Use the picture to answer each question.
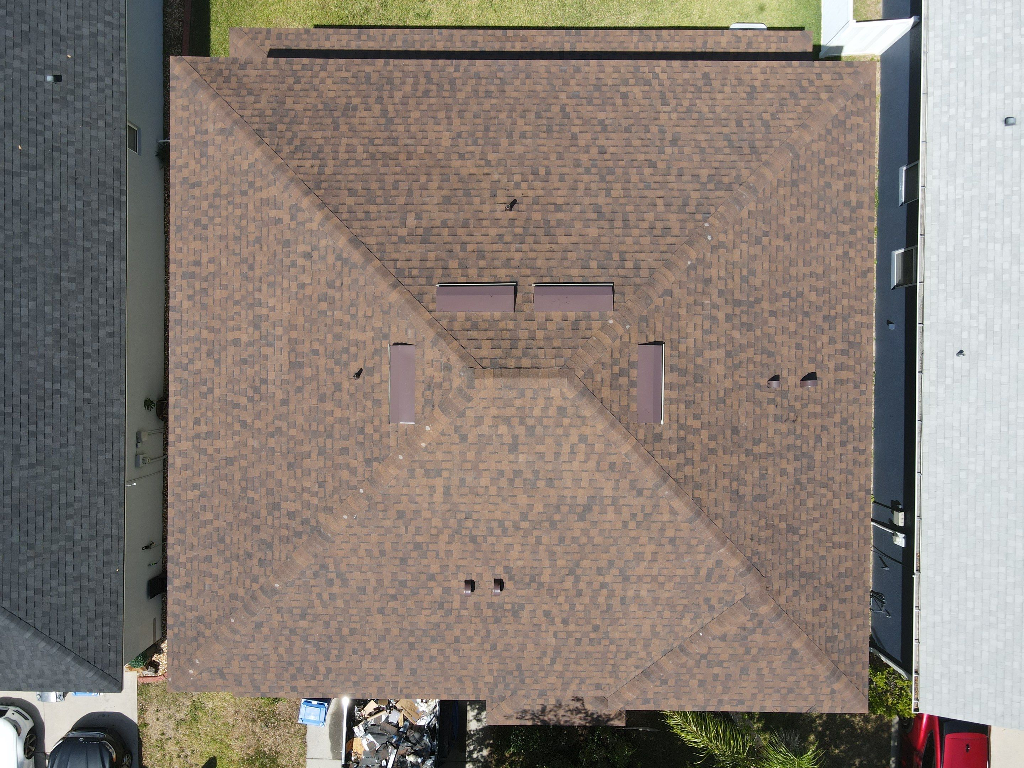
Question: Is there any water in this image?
No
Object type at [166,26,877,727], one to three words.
house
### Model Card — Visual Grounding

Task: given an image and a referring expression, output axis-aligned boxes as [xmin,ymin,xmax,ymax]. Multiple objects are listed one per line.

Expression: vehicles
[0,708,41,768]
[891,681,993,768]
[49,726,137,768]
